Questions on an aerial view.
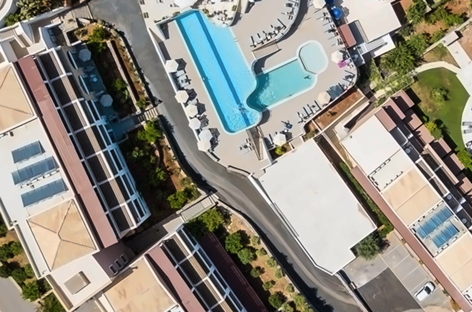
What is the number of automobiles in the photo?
1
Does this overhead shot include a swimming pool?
Yes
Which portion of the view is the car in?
bottom right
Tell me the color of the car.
white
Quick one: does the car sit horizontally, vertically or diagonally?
diagonally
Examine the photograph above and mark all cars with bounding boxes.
[415,281,435,304]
